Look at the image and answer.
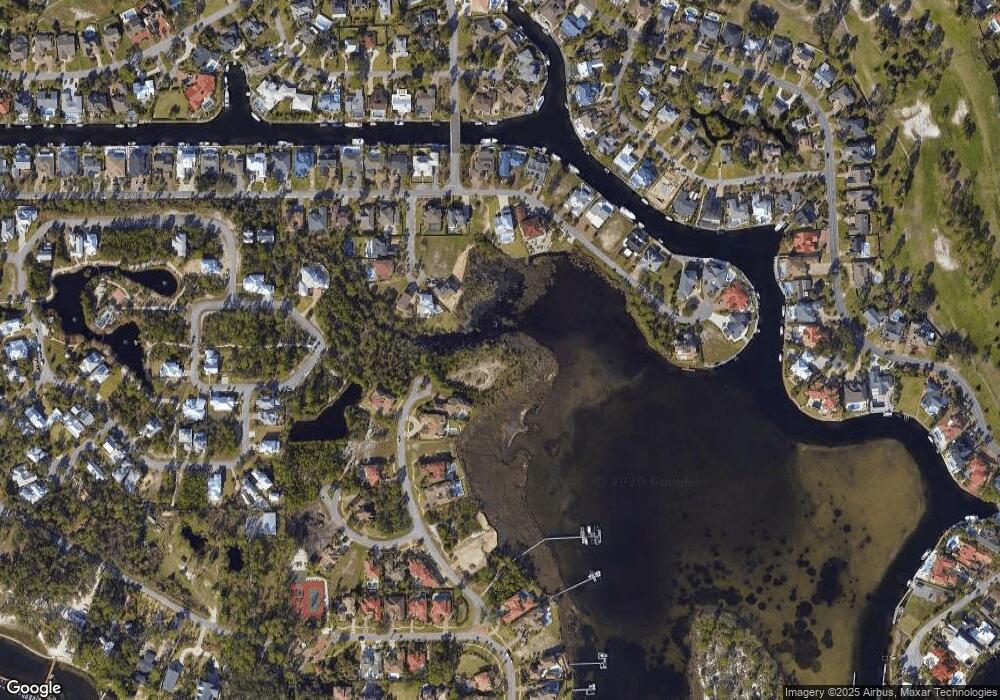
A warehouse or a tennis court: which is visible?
tennis court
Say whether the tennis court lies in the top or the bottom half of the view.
bottom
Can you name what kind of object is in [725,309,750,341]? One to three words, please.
house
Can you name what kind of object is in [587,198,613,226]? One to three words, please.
house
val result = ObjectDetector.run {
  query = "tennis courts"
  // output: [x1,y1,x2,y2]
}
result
[291,576,328,620]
